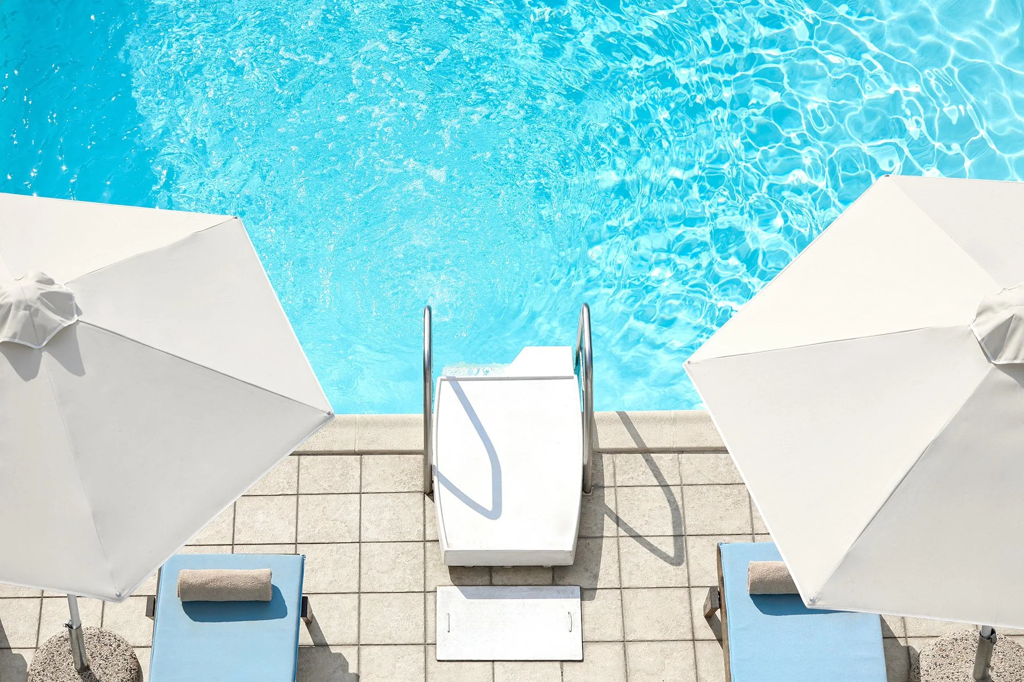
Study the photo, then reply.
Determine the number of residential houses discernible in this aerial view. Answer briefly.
0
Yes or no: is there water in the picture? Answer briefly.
Yes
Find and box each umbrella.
[685,175,1024,682]
[0,197,334,682]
